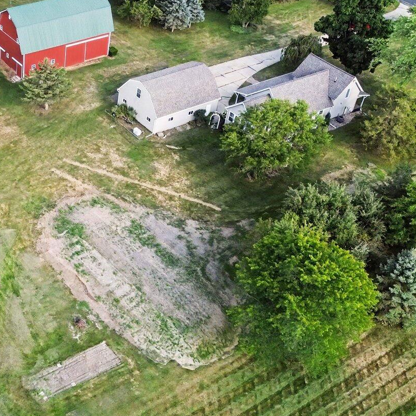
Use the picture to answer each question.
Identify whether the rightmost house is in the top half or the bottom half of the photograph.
top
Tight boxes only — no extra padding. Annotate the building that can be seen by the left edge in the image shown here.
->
[0,0,115,79]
